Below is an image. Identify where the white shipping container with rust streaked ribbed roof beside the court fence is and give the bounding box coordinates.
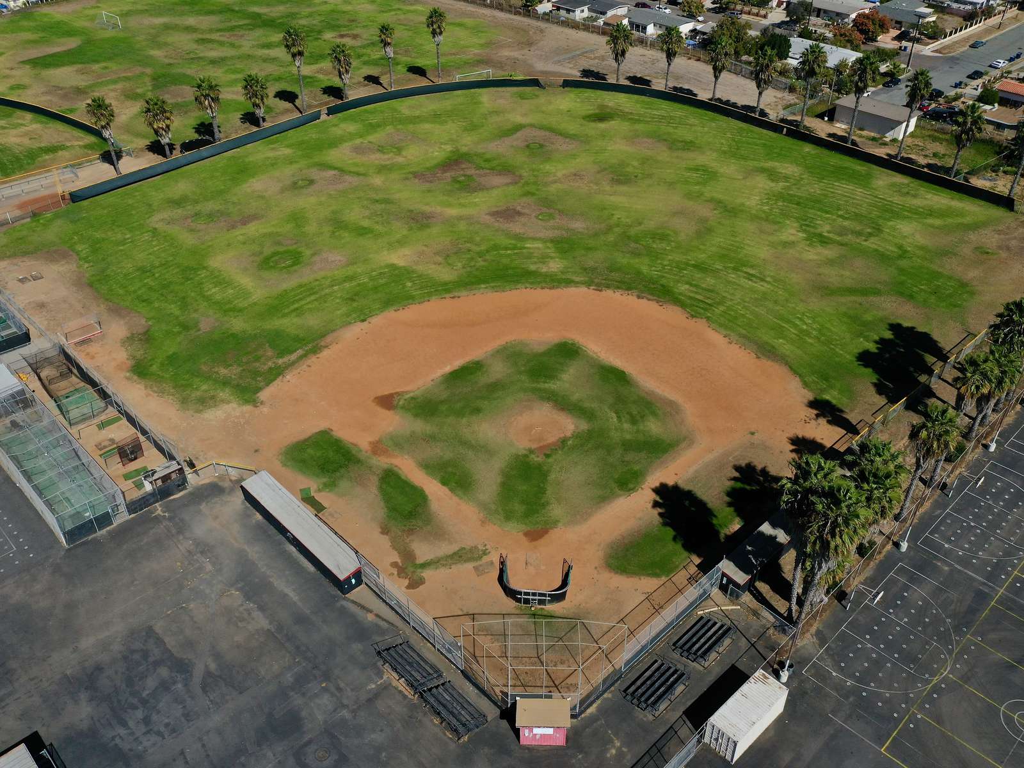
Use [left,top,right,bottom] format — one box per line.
[703,667,790,765]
